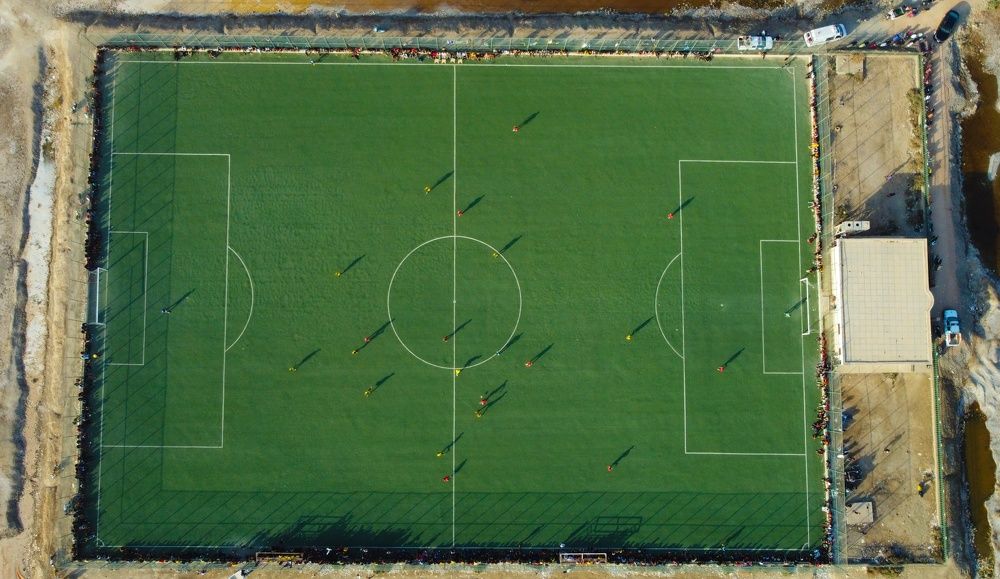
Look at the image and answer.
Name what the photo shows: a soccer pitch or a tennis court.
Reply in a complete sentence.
Looking from above, you can make out a soccer pitch.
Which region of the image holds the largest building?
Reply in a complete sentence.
The largest building is in the right part of the image.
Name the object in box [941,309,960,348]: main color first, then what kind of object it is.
blue vehicle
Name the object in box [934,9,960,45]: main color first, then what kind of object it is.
black car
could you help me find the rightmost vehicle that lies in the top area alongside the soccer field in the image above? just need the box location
[802,26,844,49]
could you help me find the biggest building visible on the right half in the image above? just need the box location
[824,221,936,367]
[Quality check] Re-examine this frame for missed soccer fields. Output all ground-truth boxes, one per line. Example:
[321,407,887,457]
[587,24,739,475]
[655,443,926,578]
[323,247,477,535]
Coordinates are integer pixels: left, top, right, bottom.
[78,51,827,558]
